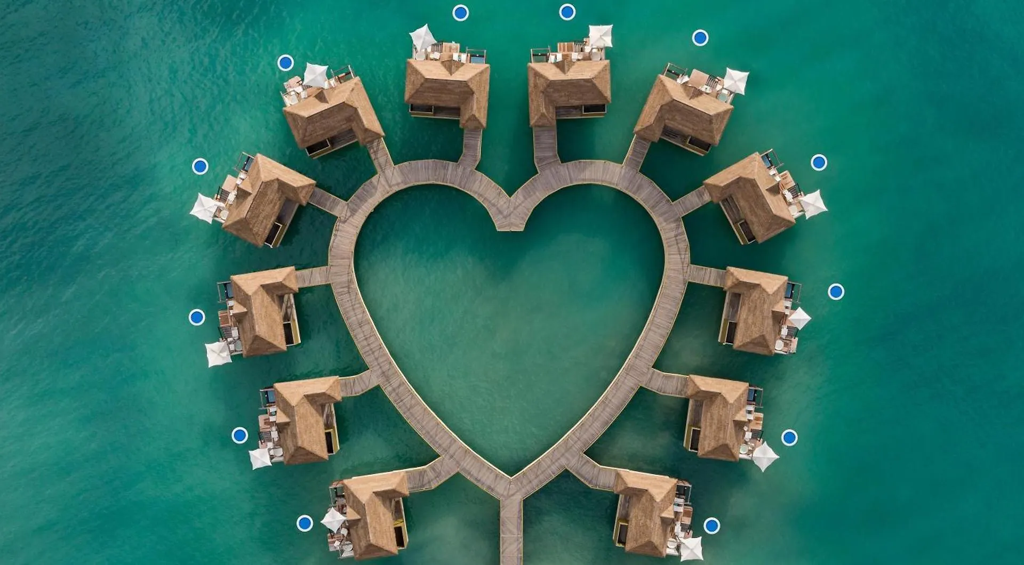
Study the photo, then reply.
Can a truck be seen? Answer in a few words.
No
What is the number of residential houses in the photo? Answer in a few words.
twelve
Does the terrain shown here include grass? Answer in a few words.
No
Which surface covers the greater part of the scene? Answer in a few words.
water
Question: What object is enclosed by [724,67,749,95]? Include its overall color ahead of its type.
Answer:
white umbrella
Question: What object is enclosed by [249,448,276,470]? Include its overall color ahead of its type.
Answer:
white umbrella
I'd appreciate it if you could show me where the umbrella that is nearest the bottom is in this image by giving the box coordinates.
[680,535,703,561]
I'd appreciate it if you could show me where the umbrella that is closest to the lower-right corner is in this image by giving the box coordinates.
[747,441,779,472]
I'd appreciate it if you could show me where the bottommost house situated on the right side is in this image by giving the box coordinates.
[611,466,696,557]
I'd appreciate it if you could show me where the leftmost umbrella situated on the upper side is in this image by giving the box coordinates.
[190,193,222,223]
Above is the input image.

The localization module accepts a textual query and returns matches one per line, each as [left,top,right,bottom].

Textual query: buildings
[682,374,766,461]
[702,146,802,248]
[611,466,696,557]
[405,38,490,128]
[257,374,345,466]
[716,266,804,355]
[283,60,385,163]
[215,148,317,252]
[214,266,304,357]
[633,58,734,159]
[527,38,611,126]
[325,467,412,560]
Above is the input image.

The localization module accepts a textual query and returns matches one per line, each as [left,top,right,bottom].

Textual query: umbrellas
[304,63,328,86]
[798,190,827,220]
[747,441,779,472]
[680,535,703,561]
[321,507,345,533]
[249,448,276,470]
[788,307,812,329]
[190,193,222,223]
[205,341,239,367]
[589,25,613,51]
[409,24,437,51]
[724,67,749,95]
